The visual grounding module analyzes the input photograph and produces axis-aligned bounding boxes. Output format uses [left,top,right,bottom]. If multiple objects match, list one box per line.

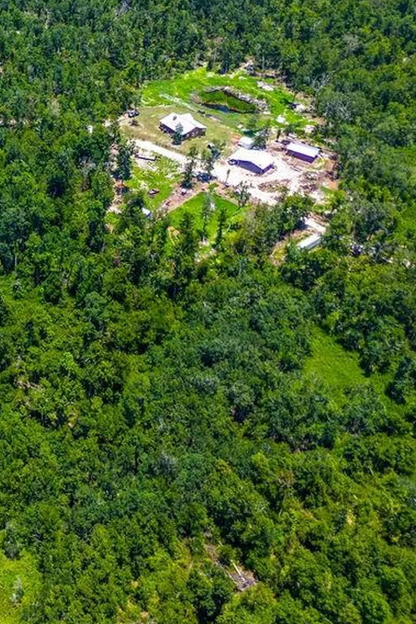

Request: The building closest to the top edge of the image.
[158,112,218,140]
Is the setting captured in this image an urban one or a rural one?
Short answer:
rural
